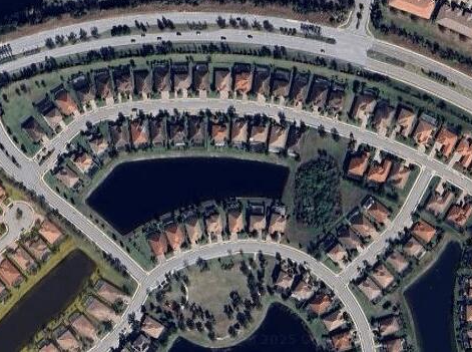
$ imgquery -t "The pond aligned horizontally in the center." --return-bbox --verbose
[87,156,291,236]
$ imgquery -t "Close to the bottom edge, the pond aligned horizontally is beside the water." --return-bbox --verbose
[167,301,318,352]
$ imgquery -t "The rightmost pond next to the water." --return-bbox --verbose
[404,242,461,352]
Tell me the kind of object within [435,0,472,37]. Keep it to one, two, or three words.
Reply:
house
